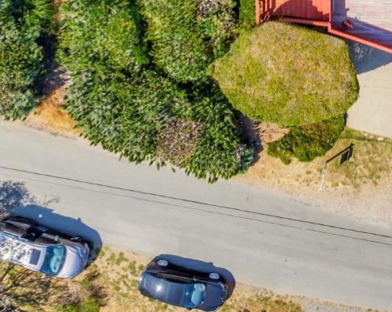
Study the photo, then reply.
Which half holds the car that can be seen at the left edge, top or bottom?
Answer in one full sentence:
The car that can be seen at the left edge is in the bottom half of the image.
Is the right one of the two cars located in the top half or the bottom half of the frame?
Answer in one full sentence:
The right one of the two cars sits in the bottom half of the picture.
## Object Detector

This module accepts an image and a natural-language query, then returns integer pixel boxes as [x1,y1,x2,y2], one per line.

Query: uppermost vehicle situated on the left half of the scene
[0,217,90,283]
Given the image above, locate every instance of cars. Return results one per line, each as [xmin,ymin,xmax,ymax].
[0,217,90,283]
[136,259,230,312]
